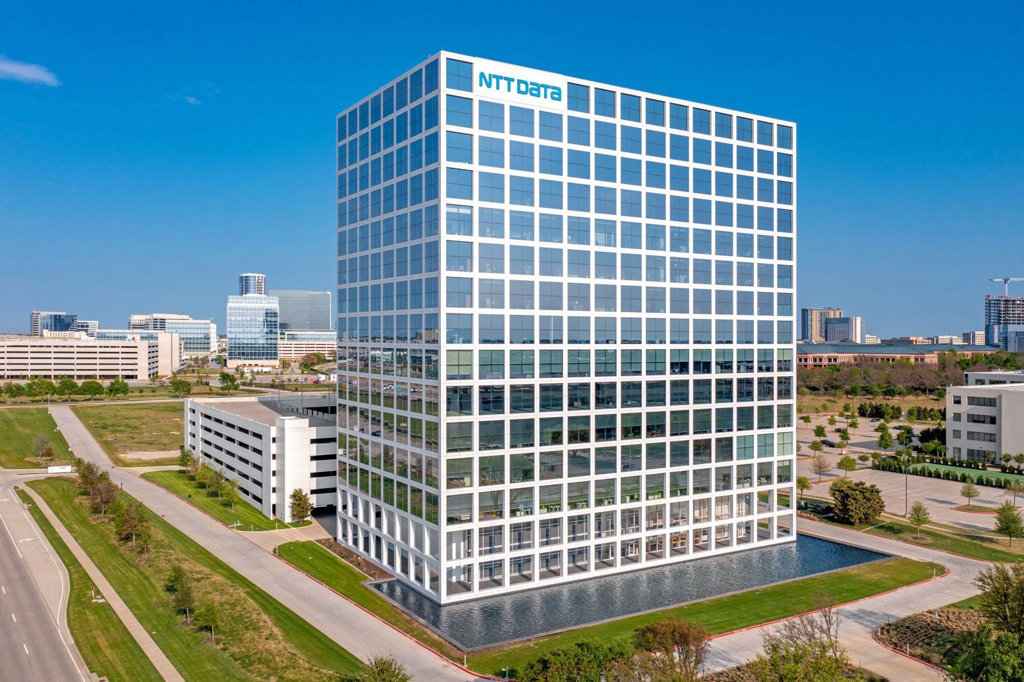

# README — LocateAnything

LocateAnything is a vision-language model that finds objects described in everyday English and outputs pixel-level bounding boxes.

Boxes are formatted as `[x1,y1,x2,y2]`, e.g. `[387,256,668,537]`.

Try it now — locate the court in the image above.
[900,462,1024,492]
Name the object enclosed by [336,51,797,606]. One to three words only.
building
